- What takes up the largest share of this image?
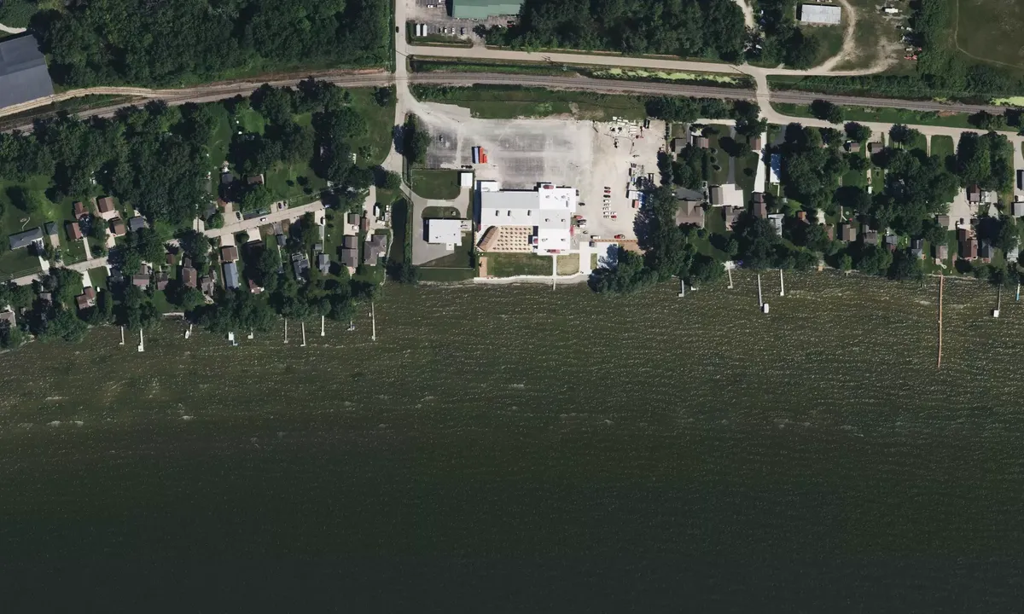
water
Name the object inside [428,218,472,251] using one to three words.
building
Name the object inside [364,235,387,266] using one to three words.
house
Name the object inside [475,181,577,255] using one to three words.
building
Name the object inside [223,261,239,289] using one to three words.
house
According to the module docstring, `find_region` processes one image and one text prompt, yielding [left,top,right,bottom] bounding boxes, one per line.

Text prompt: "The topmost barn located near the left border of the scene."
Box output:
[0,35,48,107]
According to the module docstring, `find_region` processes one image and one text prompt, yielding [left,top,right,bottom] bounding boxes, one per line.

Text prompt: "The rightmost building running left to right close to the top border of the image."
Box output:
[801,3,842,24]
